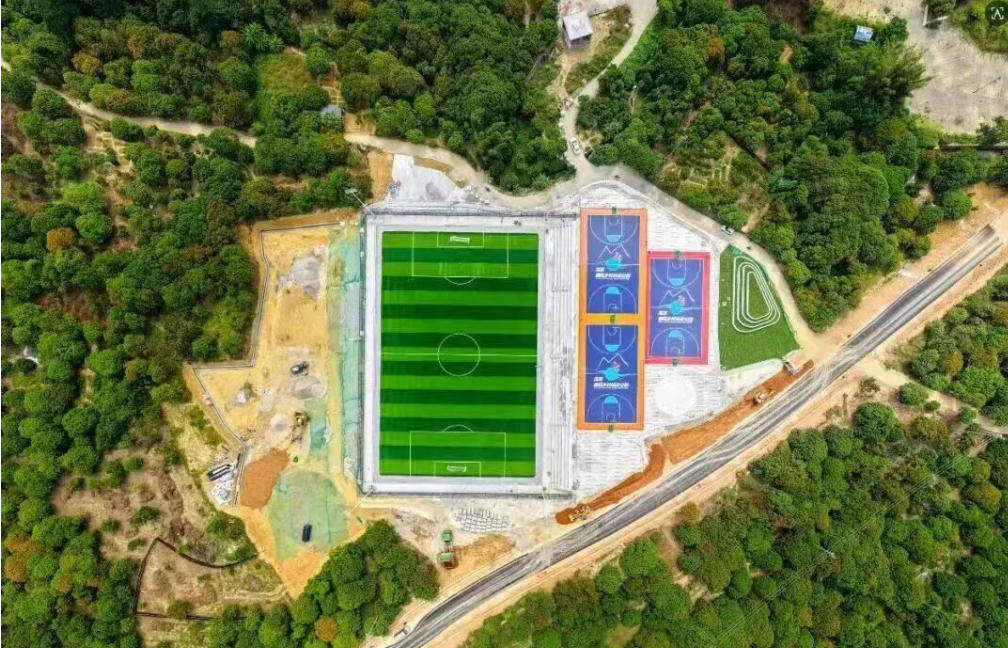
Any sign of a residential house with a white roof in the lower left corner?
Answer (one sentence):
No, there is no residential house with a white roof in the lower left corner.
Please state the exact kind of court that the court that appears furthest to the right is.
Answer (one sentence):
What you see as the court that appears furthest to the right is a basketball court.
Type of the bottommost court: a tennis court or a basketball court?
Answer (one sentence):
Looking closely, the bottommost court is a basketball court.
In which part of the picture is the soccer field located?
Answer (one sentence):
The soccer field is in the center part of the image.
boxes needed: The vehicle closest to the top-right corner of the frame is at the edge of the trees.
[720,224,736,236]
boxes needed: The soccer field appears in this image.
[380,231,537,476]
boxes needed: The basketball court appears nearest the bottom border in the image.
[578,319,646,430]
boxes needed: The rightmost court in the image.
[646,252,710,364]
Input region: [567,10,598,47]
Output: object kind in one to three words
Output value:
house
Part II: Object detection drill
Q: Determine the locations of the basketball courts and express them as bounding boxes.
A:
[578,319,646,430]
[579,208,648,319]
[646,252,710,364]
